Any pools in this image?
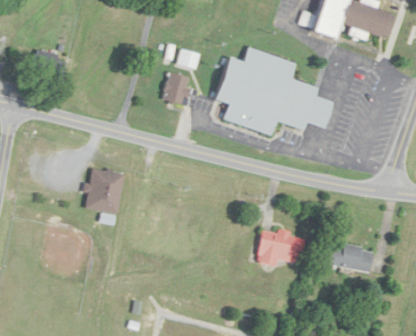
No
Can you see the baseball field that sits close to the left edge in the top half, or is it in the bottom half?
bottom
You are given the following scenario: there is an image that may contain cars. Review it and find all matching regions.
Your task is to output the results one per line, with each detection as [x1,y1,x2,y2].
[366,94,374,102]
[355,74,366,79]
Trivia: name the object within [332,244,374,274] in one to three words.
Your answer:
house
